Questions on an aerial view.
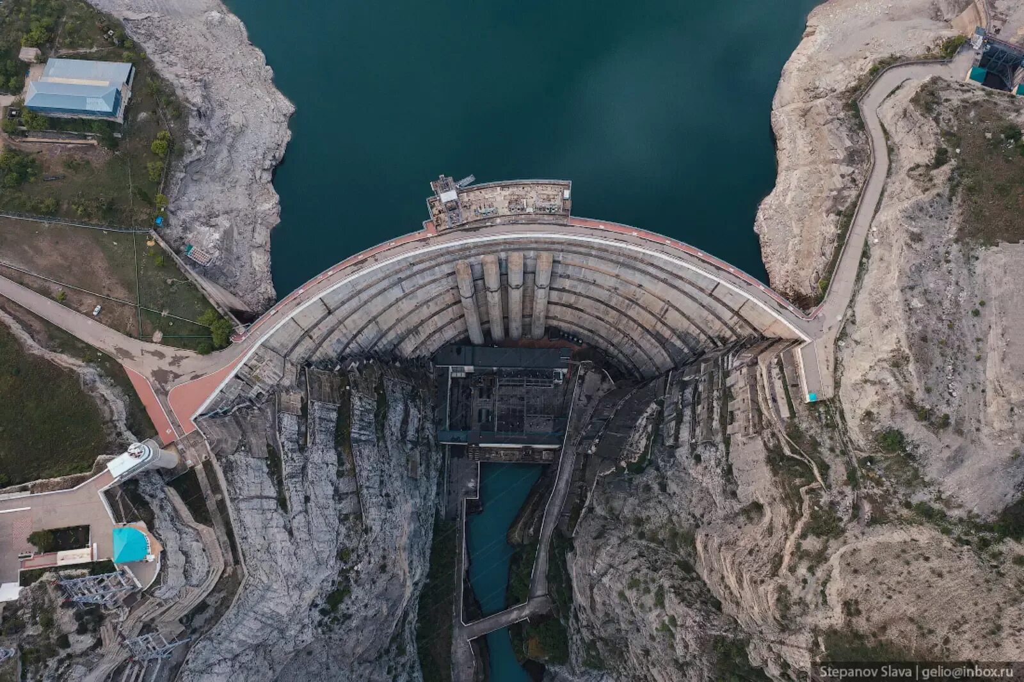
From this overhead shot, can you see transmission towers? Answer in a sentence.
Yes, you can see a transmission tower in this photo.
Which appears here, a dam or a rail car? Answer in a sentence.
It is a dam that can be seen here.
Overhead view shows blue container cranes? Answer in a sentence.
No, no blue container crane is visible in the scene.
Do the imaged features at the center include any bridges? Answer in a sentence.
No, I see no bridge at the center.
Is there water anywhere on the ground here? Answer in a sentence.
Yes, some water is visible.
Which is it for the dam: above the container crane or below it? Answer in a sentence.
The dam is below the container crane.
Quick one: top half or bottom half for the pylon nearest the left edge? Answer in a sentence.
The bottom half of the photo is where the pylon nearest the left edge is.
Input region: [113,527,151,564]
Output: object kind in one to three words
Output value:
building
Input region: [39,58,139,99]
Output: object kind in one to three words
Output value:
building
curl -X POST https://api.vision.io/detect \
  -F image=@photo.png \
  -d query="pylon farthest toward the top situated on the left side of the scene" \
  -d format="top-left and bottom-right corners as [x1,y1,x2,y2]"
[53,571,132,610]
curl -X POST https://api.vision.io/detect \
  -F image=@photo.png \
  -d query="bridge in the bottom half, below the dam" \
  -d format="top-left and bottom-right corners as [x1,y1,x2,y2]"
[466,602,552,641]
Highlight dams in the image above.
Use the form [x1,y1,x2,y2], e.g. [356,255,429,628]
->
[243,218,822,383]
